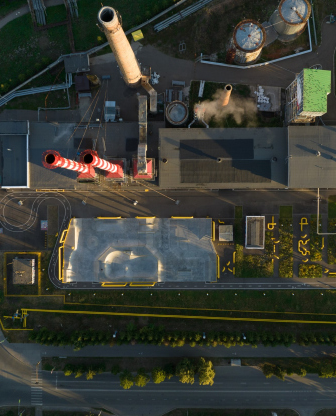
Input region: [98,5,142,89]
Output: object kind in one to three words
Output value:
chimney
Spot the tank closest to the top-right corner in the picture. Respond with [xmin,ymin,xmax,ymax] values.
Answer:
[271,0,311,39]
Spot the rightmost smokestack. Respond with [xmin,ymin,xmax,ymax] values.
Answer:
[216,84,232,110]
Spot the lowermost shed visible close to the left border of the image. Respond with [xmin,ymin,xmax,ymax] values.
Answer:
[13,257,37,284]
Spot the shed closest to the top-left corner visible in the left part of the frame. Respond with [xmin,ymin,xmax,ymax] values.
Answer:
[64,53,90,75]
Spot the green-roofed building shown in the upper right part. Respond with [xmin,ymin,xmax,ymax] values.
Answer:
[282,64,332,126]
